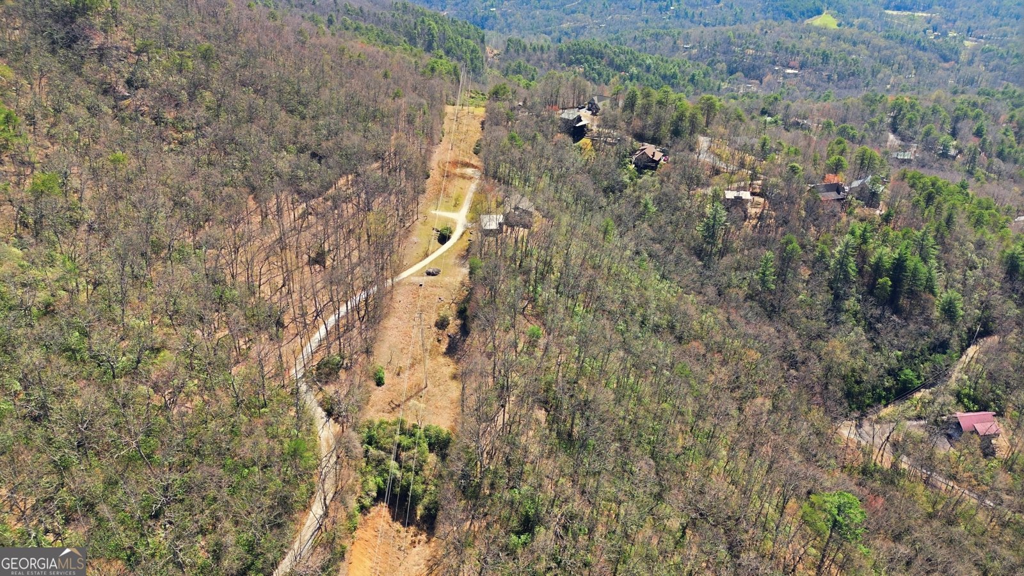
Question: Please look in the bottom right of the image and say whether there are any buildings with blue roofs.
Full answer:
No, in the bottom right of the image there is no building with a blue roof.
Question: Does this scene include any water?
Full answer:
No, there is no water in the image.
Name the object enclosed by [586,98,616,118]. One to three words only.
house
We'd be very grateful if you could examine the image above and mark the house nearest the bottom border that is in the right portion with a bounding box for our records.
[944,415,1012,447]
